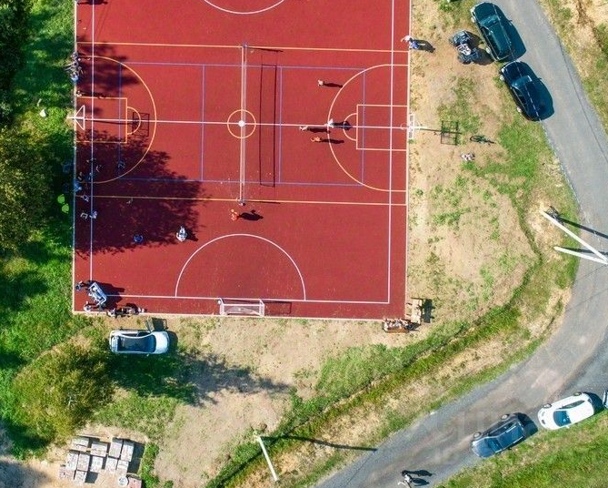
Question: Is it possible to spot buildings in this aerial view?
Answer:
No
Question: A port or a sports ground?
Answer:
sports ground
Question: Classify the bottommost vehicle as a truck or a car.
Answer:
car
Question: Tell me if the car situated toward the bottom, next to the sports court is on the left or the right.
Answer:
left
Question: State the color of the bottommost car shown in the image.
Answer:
blue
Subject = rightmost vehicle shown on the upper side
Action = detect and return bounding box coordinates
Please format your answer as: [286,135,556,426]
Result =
[502,60,547,117]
